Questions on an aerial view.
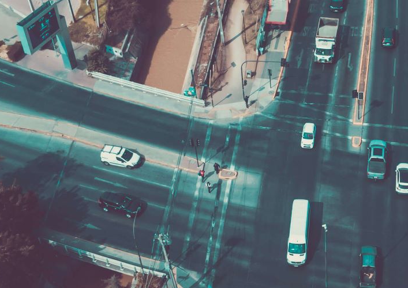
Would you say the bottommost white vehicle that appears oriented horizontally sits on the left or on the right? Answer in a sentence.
The bottommost white vehicle that appears oriented horizontally is on the left side of the image.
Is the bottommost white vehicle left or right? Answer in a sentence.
The bottommost white vehicle is on the right side of the image.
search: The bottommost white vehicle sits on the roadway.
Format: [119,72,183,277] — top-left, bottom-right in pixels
[285,199,310,264]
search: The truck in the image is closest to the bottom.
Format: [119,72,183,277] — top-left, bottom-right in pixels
[358,247,380,288]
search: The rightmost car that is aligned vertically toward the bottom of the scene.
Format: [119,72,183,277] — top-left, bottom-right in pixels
[395,163,408,196]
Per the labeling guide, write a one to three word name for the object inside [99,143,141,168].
vehicle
